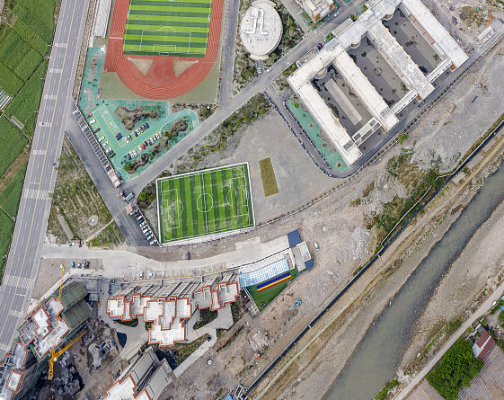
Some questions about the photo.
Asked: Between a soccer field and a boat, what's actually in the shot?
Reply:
soccer field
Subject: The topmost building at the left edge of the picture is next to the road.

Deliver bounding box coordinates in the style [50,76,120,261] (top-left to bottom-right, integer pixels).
[20,283,93,359]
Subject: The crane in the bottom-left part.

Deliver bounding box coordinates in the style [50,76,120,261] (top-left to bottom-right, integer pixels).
[47,263,86,380]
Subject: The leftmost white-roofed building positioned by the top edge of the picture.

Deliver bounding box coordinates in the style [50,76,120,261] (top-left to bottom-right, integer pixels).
[240,0,285,61]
